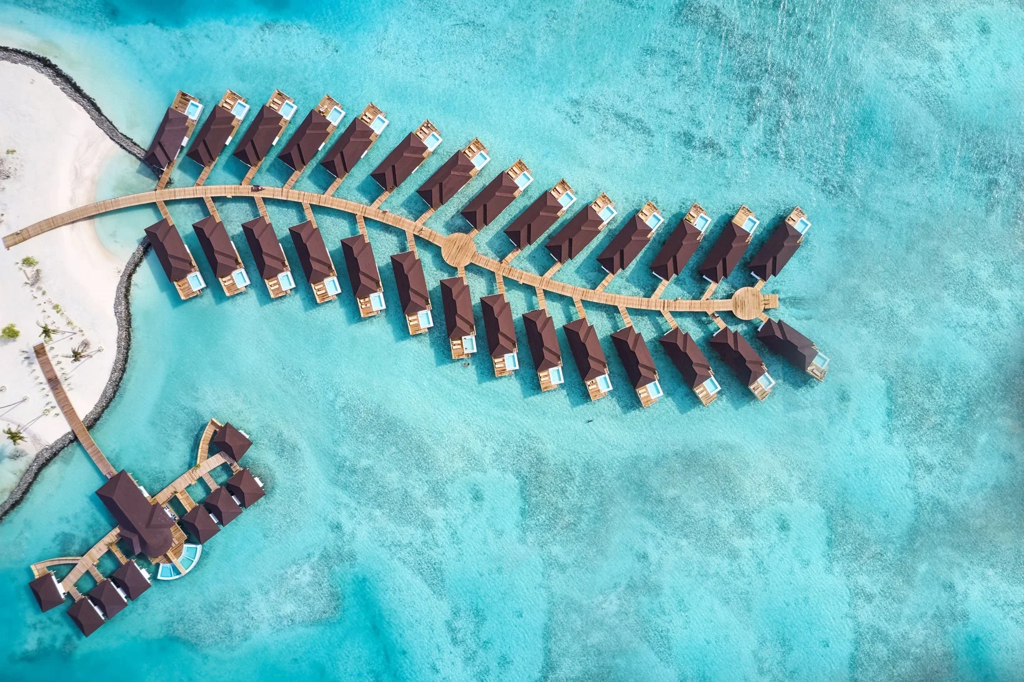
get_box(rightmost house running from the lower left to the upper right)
[745,205,808,281]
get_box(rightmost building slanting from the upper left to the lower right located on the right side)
[754,318,828,385]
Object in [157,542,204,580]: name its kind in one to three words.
swimming pool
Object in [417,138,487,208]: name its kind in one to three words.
house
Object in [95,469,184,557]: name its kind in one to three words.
building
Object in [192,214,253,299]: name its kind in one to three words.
house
